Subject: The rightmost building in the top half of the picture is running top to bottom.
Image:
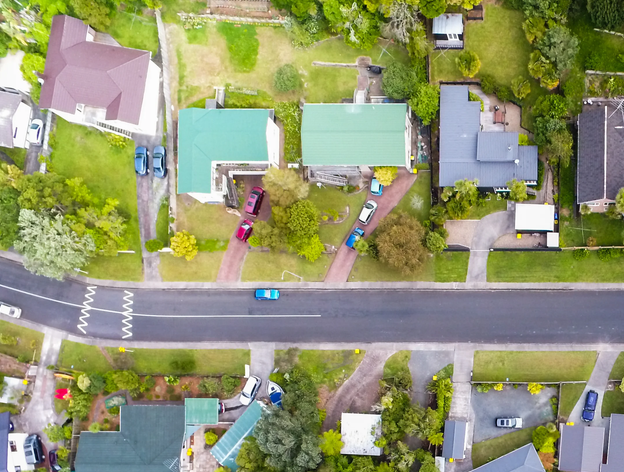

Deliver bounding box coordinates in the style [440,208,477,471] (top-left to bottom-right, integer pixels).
[578,96,624,205]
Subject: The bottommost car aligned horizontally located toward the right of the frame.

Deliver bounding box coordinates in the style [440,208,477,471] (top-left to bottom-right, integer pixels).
[495,417,523,429]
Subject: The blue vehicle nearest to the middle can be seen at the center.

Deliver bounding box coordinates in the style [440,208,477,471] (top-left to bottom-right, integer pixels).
[345,225,365,250]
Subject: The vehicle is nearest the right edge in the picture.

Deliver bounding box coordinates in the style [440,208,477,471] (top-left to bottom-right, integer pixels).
[583,392,597,420]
